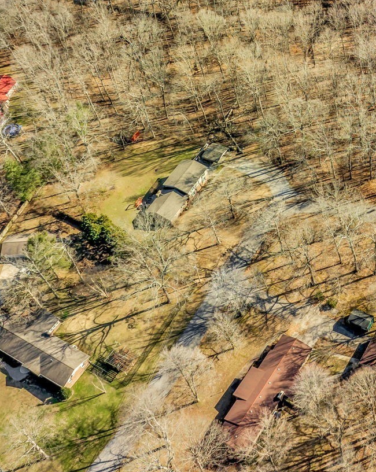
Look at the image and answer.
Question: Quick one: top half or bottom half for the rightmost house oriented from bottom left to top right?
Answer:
bottom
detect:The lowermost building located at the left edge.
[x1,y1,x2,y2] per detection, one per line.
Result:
[0,310,90,389]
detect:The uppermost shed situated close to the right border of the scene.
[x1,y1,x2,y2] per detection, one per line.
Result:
[348,311,374,332]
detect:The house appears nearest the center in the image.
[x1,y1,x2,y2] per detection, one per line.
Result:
[143,143,227,226]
